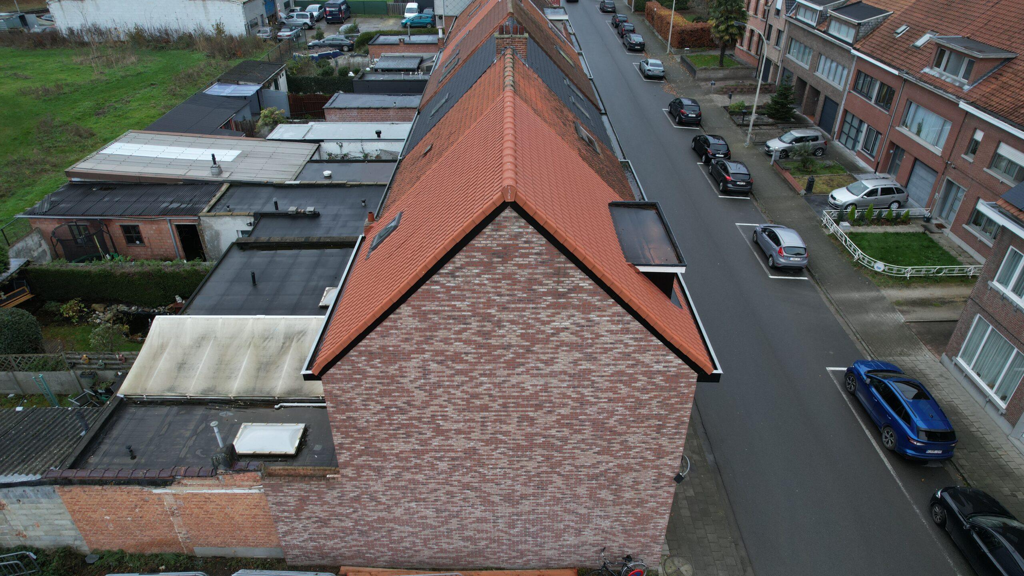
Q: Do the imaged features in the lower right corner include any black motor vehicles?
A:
Yes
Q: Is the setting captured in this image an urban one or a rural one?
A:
urban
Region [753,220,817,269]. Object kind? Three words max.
car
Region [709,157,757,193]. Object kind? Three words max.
car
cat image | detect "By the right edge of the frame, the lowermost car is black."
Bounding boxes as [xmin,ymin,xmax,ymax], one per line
[927,485,1024,576]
